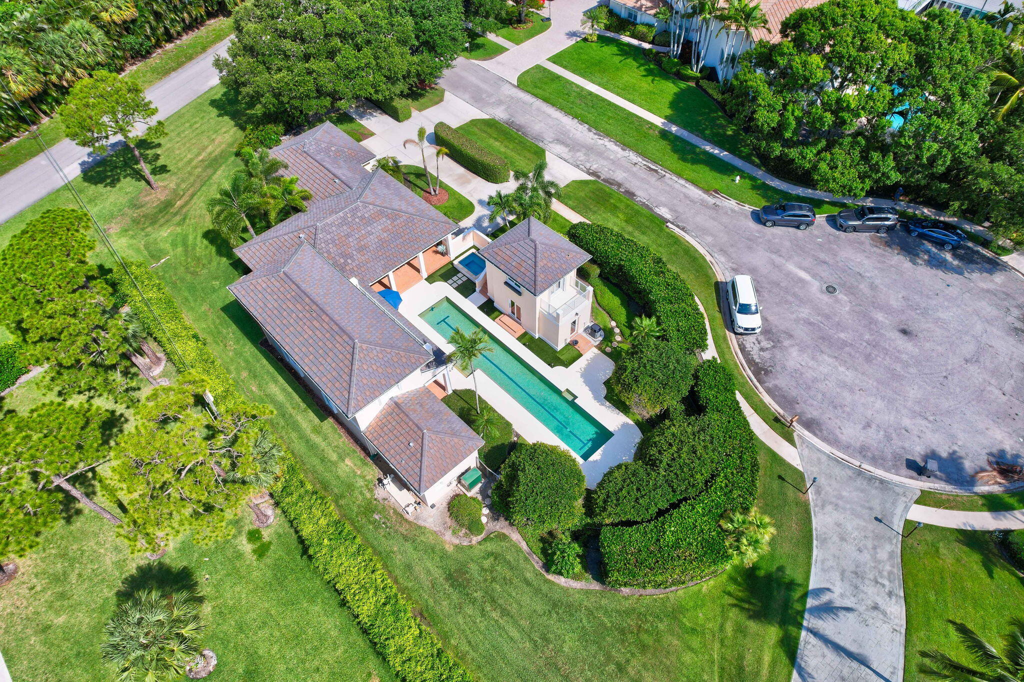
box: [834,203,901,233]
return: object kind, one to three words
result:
car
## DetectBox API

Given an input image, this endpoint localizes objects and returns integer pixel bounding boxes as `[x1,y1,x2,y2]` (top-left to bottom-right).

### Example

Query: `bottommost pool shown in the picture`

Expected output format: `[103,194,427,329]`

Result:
[420,297,613,460]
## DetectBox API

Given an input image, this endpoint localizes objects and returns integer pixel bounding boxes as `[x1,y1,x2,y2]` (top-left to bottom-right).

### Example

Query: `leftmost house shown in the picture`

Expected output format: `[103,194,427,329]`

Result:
[226,120,486,508]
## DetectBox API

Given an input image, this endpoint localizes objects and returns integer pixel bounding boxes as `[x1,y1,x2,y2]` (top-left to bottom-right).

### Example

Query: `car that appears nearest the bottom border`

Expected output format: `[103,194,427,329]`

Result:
[726,278,763,338]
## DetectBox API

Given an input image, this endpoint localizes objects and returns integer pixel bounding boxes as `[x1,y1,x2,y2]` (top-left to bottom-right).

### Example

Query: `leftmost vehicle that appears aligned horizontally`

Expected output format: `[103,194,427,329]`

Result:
[758,200,818,229]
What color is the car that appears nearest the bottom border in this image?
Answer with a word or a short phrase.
white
